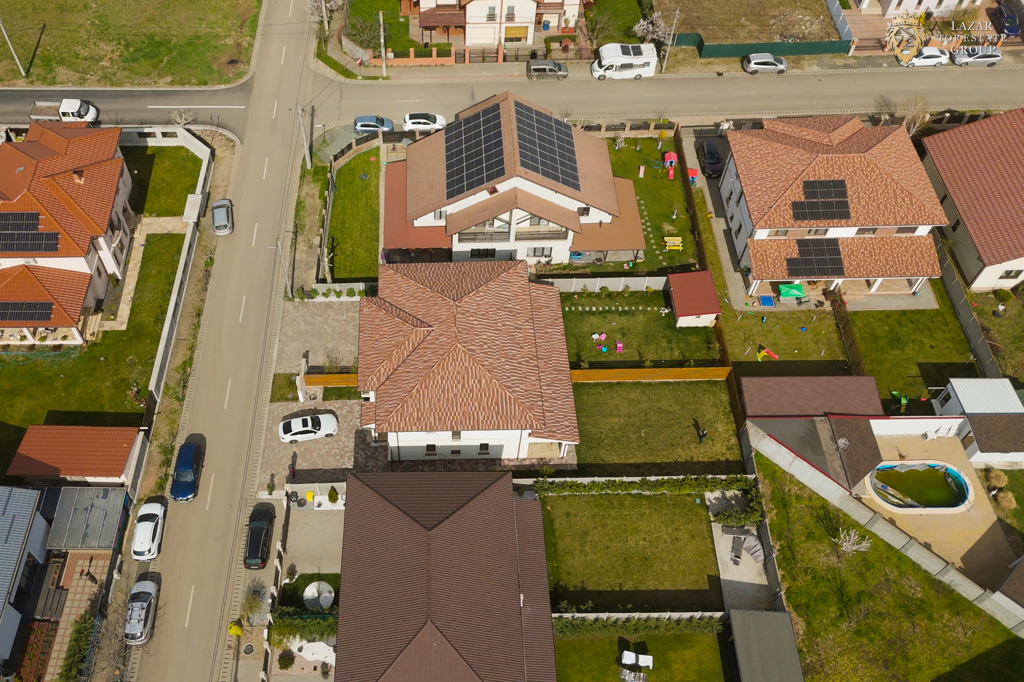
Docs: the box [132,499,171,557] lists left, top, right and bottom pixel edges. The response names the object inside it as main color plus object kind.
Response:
white car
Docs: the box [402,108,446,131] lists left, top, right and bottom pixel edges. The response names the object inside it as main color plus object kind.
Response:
white car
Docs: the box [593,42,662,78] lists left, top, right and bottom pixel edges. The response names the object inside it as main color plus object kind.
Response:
white camper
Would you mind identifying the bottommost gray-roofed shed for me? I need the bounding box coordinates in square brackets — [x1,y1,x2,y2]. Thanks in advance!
[726,609,805,682]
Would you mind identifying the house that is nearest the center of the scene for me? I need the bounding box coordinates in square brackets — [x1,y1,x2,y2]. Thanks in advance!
[356,260,578,465]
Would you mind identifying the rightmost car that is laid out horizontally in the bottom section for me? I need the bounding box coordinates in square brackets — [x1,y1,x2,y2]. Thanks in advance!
[279,409,342,442]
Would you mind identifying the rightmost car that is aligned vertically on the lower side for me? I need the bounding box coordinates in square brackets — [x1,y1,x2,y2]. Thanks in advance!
[244,502,282,566]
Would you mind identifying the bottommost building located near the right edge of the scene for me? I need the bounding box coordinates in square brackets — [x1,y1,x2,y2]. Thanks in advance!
[989,553,1024,624]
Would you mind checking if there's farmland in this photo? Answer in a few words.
No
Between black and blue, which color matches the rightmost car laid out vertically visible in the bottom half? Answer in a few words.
black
